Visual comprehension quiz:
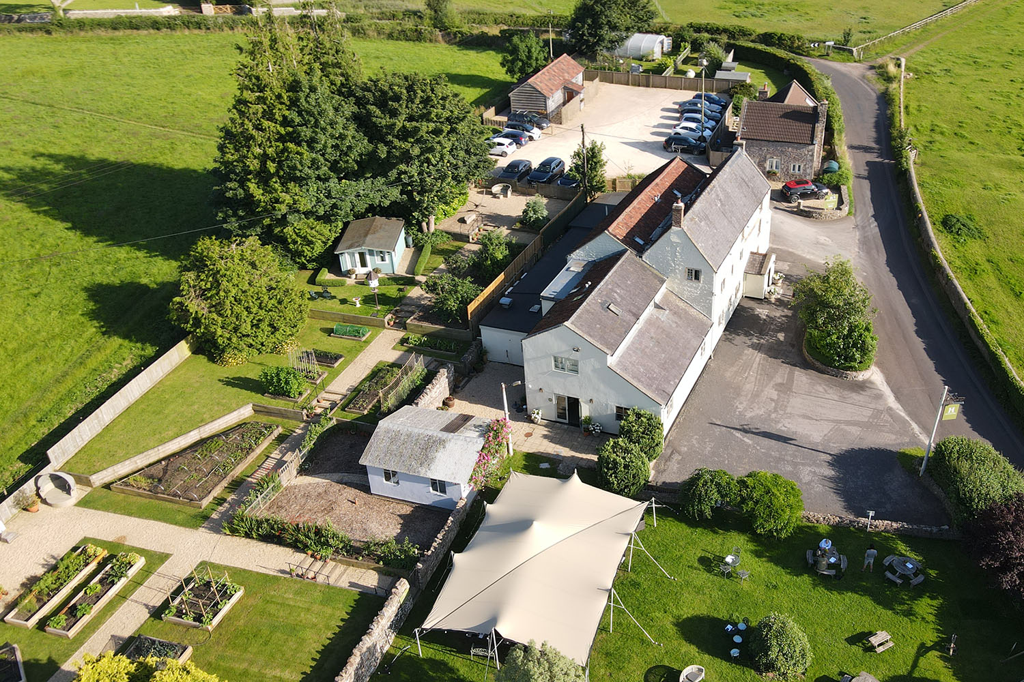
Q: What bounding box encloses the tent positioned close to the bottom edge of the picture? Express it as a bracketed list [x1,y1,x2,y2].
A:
[381,457,676,682]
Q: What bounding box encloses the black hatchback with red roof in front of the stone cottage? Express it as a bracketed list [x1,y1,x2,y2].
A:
[782,179,832,202]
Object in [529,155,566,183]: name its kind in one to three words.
car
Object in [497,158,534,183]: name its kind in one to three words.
car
